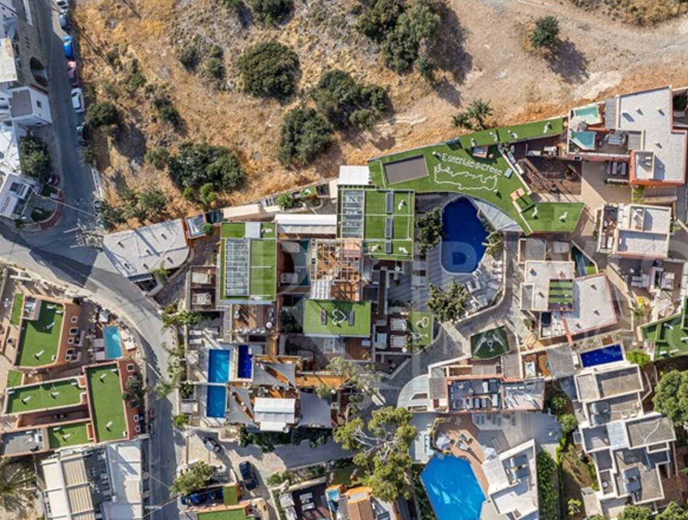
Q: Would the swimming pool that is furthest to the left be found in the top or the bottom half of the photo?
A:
bottom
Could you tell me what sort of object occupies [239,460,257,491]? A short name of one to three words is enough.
car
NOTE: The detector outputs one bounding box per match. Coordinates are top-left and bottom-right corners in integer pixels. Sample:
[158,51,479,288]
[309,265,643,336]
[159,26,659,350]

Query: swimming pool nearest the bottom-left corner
[102,324,124,361]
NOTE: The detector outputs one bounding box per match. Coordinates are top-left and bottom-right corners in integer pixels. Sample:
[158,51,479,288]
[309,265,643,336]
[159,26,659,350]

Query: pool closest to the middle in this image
[290,239,311,289]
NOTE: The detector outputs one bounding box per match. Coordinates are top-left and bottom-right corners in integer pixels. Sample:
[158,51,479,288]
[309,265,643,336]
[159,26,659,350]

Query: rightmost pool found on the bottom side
[578,340,628,369]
